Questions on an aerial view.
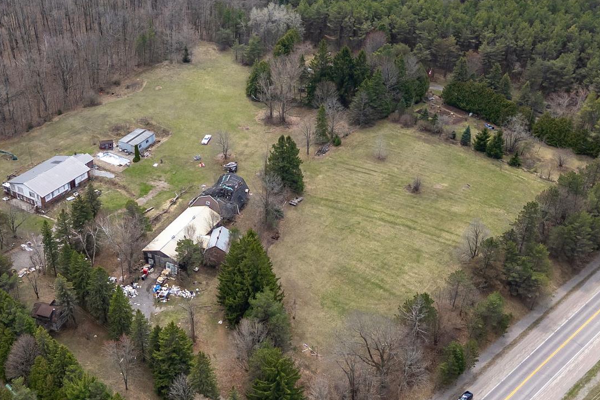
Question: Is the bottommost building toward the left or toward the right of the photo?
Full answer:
The bottommost building appears in the left half of the scene.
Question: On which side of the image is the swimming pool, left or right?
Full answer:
The swimming pool is on the left side of the image.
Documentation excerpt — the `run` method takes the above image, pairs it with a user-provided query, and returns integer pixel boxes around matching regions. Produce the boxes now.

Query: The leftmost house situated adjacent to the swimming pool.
[2,154,96,209]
